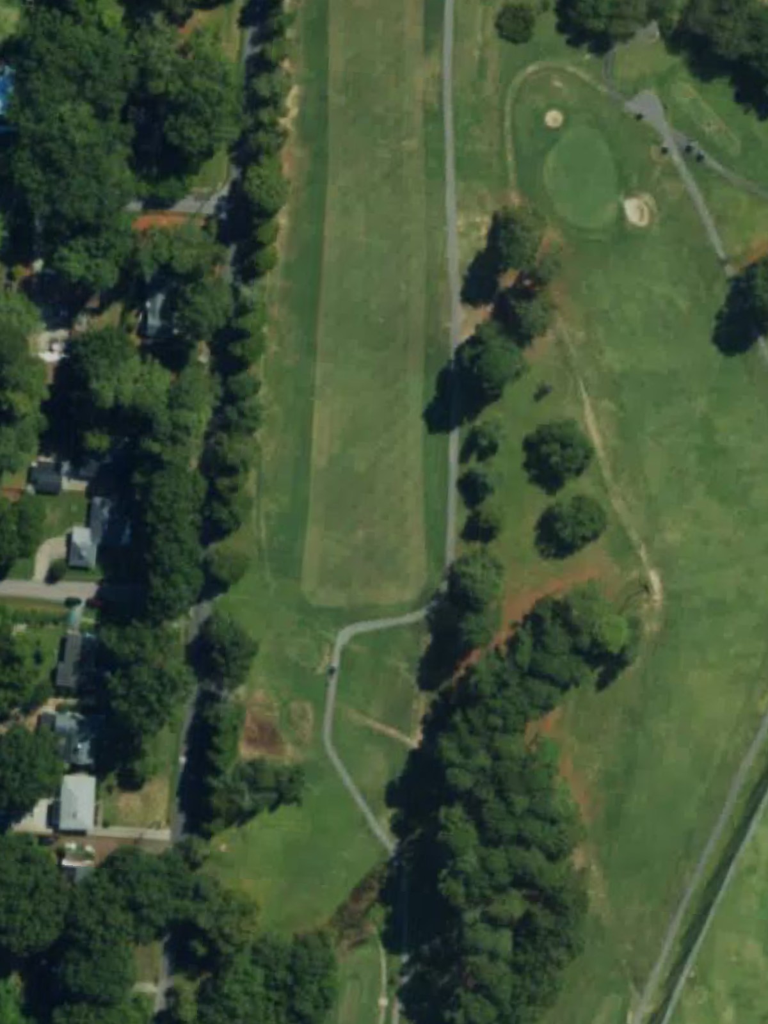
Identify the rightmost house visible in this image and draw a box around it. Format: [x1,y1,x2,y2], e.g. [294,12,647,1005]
[146,292,169,337]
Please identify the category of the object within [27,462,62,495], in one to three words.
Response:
house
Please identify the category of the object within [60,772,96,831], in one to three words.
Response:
house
